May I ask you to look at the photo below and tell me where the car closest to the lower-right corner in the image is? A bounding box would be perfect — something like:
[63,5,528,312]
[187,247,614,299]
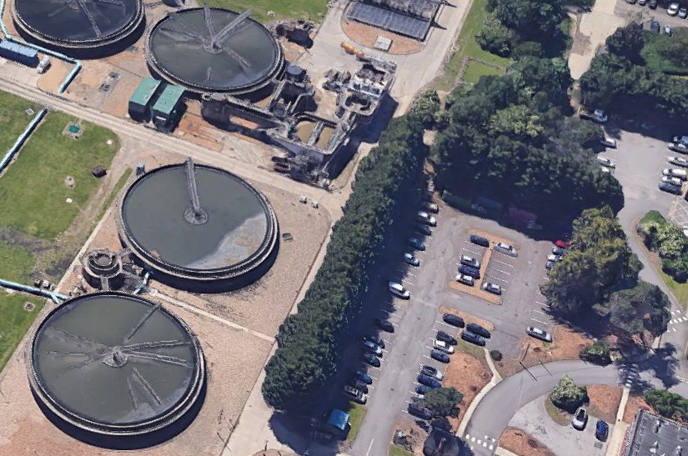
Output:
[595,419,609,442]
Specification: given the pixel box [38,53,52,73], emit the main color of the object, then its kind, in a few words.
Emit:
white vehicle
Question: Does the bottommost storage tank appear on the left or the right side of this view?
left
